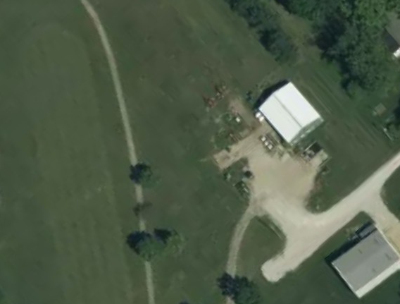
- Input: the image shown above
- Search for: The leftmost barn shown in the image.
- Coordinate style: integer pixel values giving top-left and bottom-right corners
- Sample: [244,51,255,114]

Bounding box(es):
[260,83,321,145]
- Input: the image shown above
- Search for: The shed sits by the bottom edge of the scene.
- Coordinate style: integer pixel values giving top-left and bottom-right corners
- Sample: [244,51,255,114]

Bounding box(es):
[333,224,400,298]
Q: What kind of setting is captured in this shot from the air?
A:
golf course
